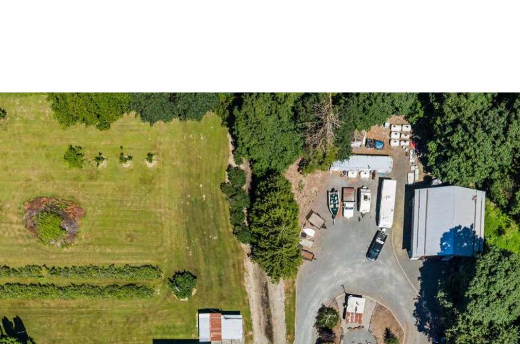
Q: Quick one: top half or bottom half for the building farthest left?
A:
bottom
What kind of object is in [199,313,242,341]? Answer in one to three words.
building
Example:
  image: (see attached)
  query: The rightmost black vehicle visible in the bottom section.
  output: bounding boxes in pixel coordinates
[368,228,389,260]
